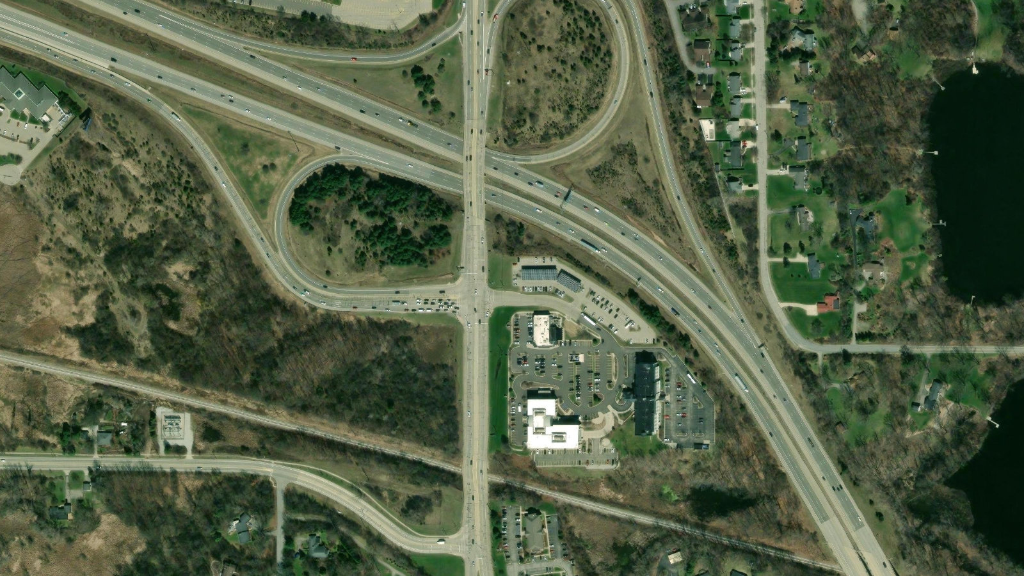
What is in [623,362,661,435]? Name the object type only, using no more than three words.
building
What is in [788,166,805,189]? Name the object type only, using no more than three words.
house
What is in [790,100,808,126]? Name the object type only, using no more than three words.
house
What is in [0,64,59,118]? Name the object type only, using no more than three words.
building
